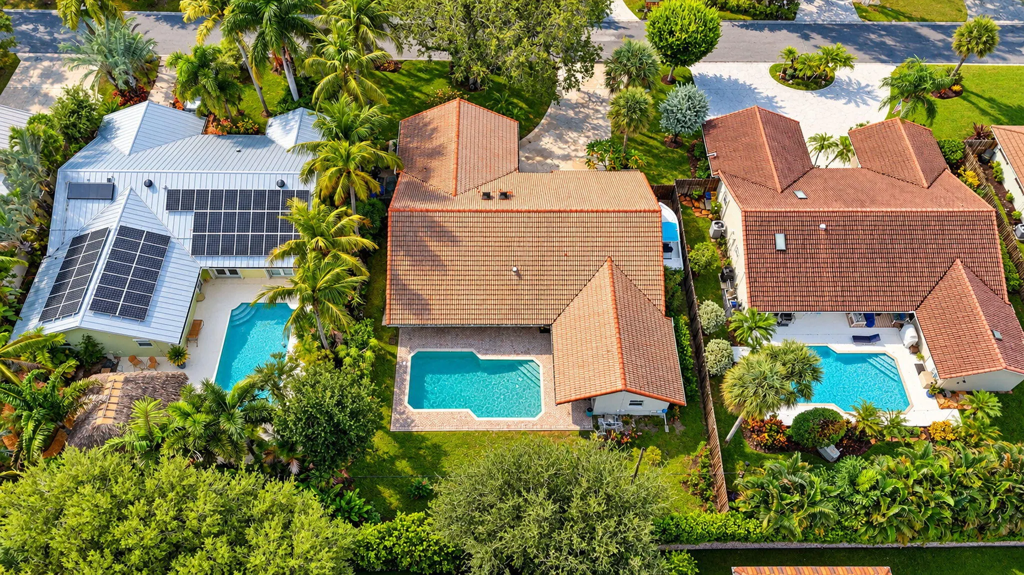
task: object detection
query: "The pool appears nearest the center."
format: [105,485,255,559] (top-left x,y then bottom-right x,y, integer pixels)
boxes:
[403,348,546,421]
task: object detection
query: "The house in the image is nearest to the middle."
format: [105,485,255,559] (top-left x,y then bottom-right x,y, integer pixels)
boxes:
[384,97,687,414]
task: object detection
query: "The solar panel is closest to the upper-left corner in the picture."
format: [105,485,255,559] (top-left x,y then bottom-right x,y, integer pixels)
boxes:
[64,178,114,201]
